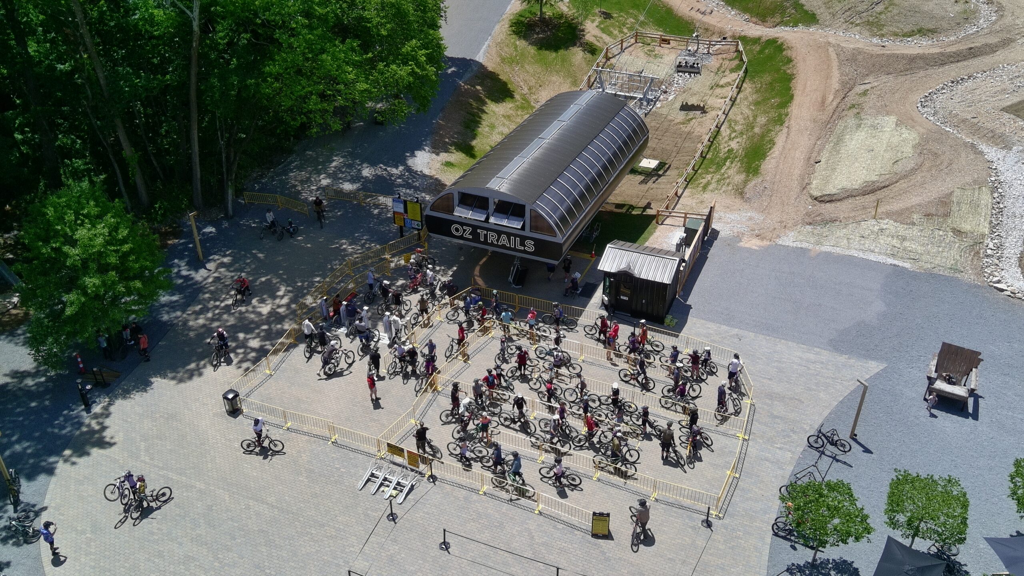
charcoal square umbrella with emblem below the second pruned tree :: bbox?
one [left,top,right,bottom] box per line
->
[867,536,946,576]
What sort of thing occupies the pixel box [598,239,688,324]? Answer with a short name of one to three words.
shed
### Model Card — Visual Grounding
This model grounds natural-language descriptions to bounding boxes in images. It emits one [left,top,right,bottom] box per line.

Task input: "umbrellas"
[867,536,946,576]
[982,537,1024,576]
